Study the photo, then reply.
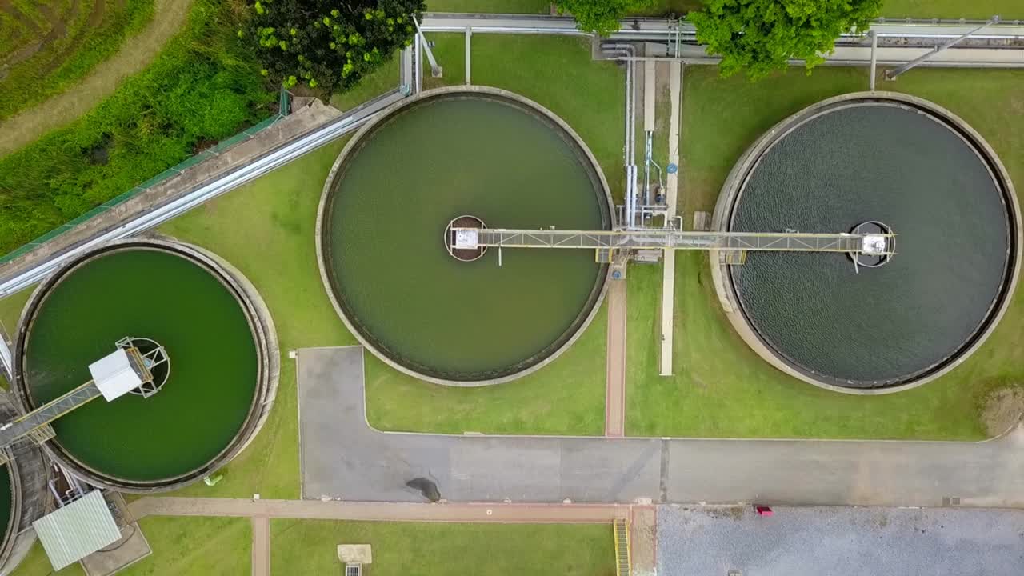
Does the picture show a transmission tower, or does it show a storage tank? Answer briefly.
storage tank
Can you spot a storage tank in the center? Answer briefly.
Yes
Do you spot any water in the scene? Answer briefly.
Yes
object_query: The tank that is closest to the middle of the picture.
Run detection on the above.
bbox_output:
[316,86,615,386]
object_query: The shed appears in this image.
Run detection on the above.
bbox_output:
[32,488,134,572]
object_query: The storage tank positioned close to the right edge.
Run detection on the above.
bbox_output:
[711,92,1022,393]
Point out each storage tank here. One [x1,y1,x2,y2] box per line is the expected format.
[0,399,45,576]
[711,92,1022,393]
[16,239,279,490]
[316,86,615,386]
